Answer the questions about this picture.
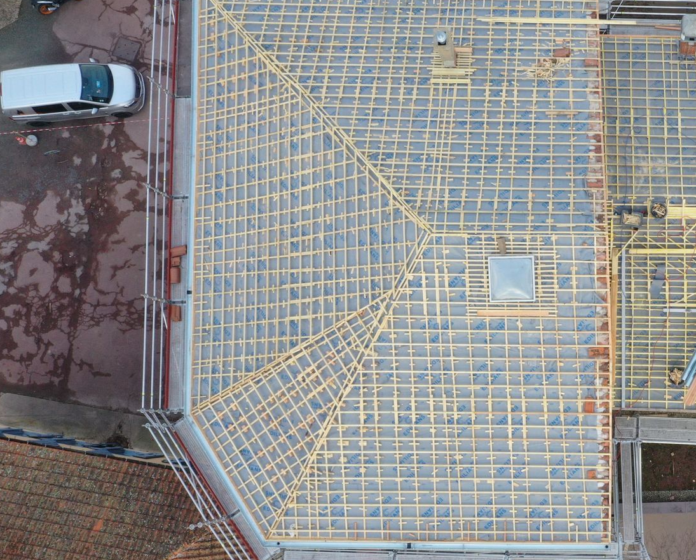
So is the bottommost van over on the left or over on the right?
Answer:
left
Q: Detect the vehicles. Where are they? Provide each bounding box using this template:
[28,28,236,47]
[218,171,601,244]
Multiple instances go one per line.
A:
[0,57,155,127]
[30,0,67,15]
